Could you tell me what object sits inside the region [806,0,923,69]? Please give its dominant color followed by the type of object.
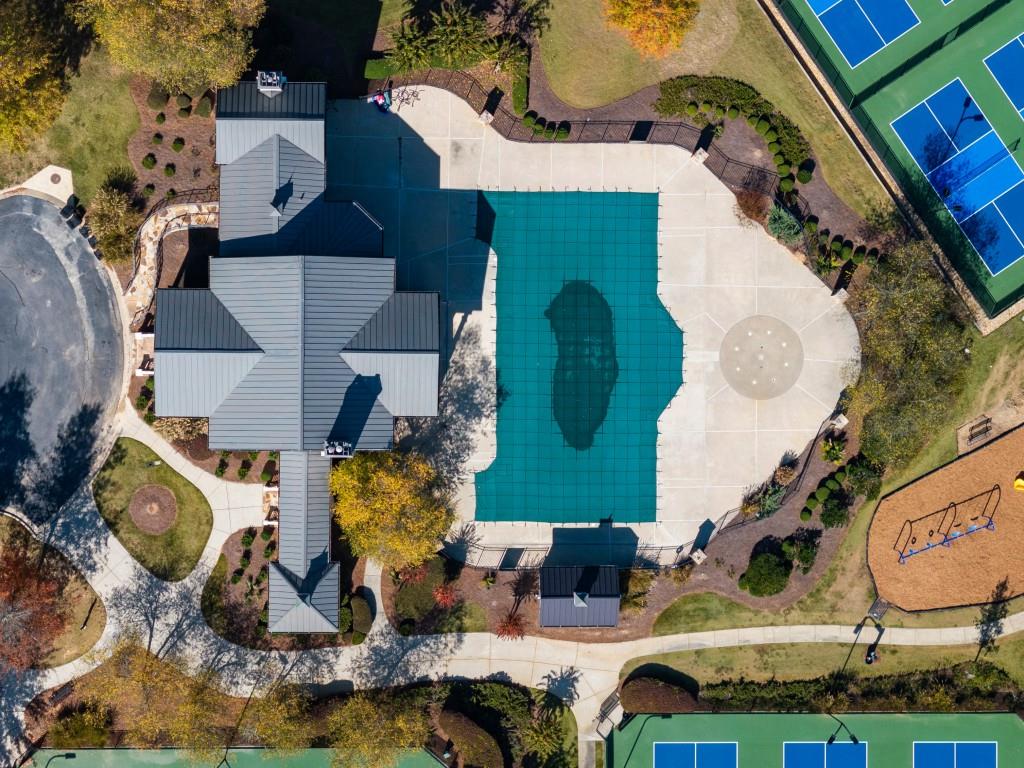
blue sports court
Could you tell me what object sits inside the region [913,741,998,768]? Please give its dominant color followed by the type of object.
blue sports court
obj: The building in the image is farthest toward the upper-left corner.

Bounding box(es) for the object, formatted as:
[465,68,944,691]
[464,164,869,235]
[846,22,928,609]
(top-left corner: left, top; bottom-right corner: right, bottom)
[154,70,440,633]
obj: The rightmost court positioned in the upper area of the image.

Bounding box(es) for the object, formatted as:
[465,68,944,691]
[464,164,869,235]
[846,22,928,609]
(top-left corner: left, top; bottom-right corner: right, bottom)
[983,34,1024,120]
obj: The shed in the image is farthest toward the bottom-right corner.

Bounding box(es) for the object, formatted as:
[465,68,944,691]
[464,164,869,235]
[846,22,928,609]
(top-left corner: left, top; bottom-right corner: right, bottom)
[536,564,620,629]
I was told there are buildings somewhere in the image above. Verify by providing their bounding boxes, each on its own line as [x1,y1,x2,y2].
[536,564,620,629]
[154,70,440,633]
